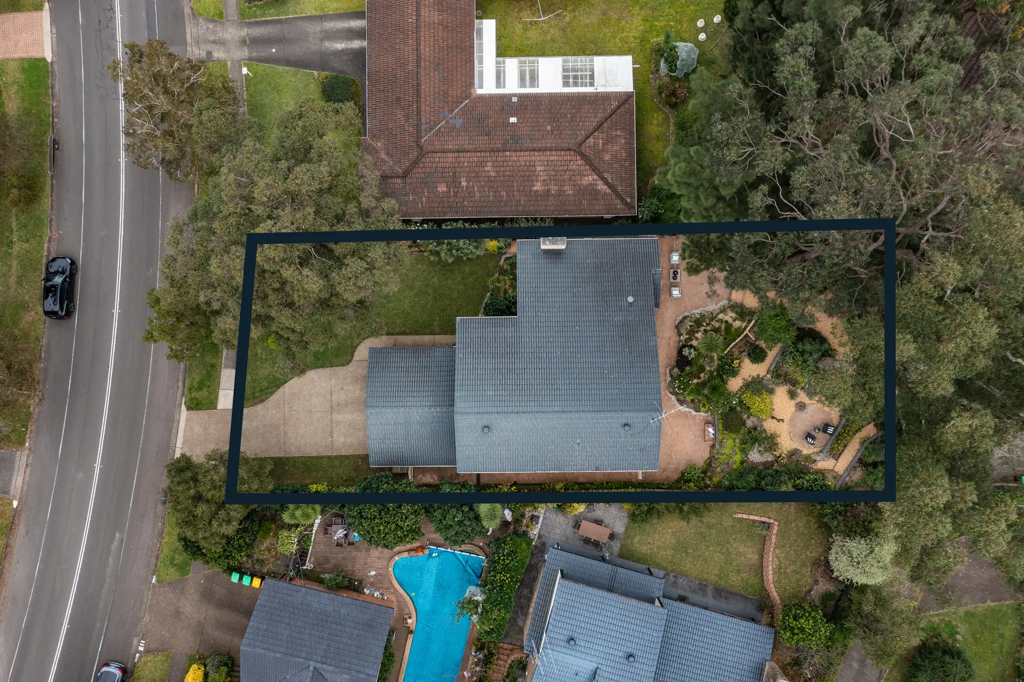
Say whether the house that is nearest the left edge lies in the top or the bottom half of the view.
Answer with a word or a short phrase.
bottom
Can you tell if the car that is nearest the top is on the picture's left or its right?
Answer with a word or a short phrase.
left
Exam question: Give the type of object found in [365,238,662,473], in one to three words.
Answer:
house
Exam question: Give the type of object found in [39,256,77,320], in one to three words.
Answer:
car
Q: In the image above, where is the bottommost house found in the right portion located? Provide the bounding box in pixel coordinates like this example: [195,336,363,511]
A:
[508,530,775,682]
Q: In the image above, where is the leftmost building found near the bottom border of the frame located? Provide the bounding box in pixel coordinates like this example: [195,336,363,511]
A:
[239,572,396,682]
